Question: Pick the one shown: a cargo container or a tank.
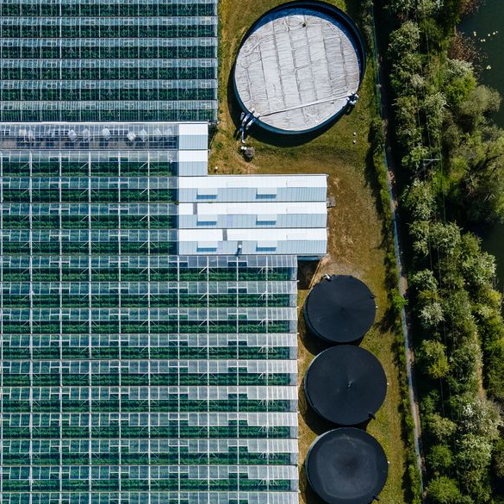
tank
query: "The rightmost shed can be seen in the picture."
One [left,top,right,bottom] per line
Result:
[179,122,327,261]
